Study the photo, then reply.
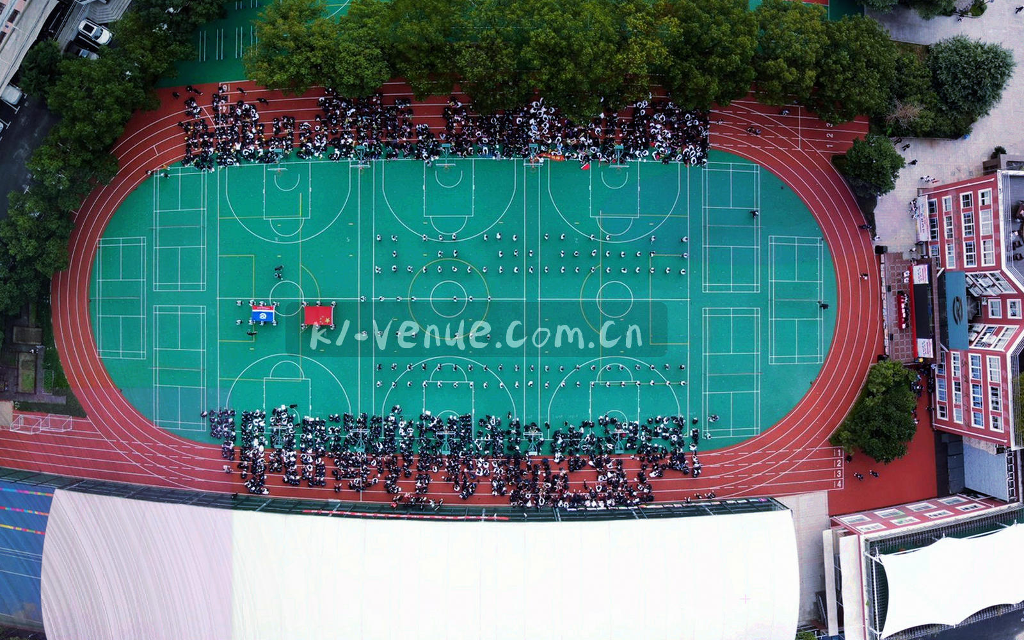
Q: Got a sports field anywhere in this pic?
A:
Yes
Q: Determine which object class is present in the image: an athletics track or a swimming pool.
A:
athletics track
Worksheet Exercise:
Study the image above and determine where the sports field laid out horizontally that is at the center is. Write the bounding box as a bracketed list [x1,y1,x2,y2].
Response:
[89,141,838,457]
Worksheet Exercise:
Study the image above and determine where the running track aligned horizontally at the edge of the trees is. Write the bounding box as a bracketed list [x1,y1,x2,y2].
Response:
[4,81,880,505]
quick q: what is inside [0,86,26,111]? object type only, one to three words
car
